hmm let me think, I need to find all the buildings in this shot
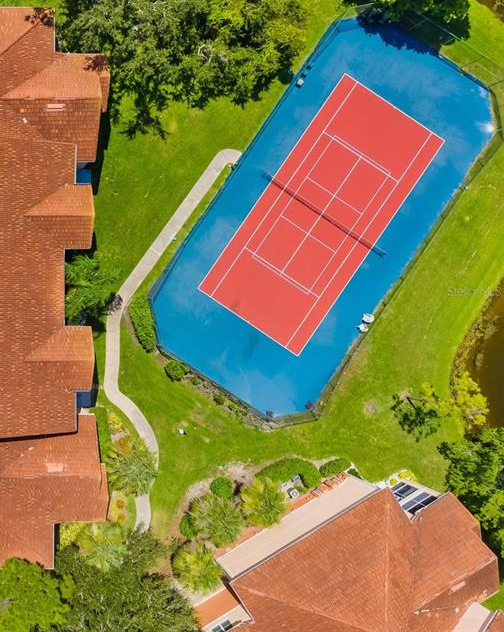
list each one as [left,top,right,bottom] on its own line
[192,472,504,632]
[0,6,106,568]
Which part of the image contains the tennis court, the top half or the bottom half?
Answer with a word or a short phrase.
top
